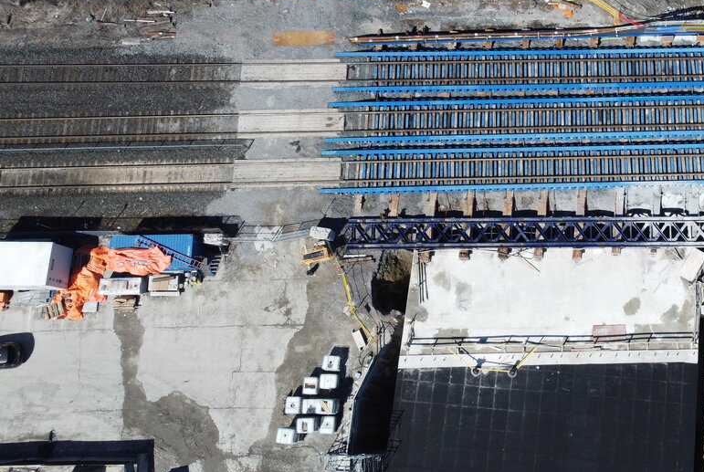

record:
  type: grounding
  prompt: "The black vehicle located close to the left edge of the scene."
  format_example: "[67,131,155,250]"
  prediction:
[0,343,21,369]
